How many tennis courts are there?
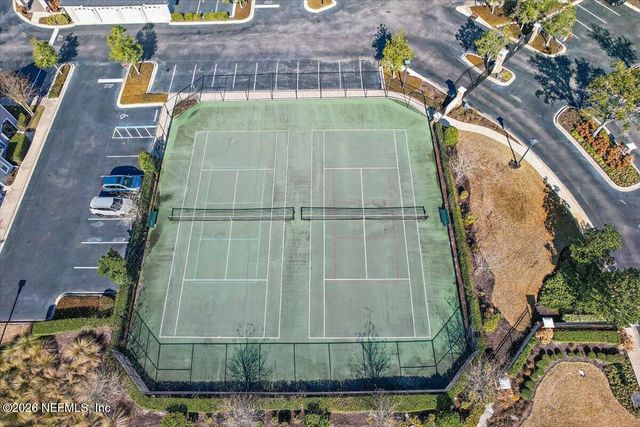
2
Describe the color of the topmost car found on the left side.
blue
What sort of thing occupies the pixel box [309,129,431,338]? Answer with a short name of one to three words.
tennis court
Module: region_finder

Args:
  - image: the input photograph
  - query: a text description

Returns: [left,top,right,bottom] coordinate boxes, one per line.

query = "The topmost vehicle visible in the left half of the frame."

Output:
[99,171,139,192]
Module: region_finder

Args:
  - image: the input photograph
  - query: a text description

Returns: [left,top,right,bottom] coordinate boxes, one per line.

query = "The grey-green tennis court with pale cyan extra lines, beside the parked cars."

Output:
[159,130,289,338]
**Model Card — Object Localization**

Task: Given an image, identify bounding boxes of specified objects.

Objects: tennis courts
[309,129,431,338]
[159,130,289,338]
